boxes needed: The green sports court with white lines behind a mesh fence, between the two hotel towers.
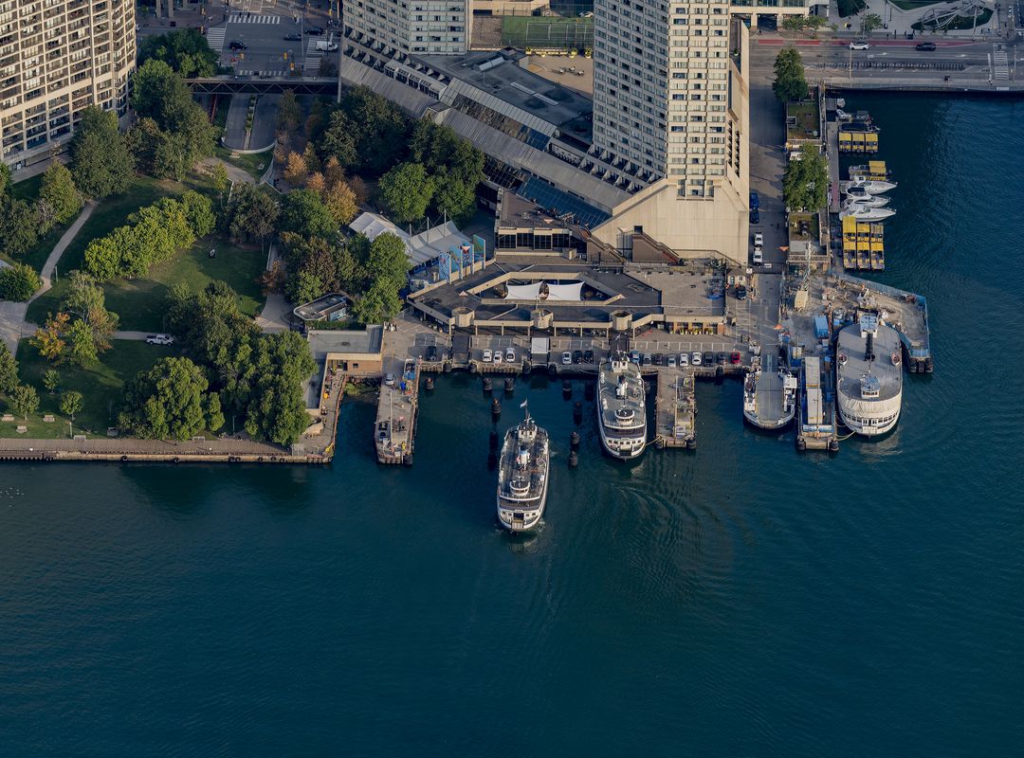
[501,0,594,49]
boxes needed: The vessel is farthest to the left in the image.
[497,392,555,532]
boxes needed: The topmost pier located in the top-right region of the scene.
[826,121,840,215]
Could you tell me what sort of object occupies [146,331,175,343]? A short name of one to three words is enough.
vehicle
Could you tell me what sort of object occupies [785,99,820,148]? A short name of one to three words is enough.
building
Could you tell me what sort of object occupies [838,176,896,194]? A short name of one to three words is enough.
boat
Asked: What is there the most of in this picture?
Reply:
water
